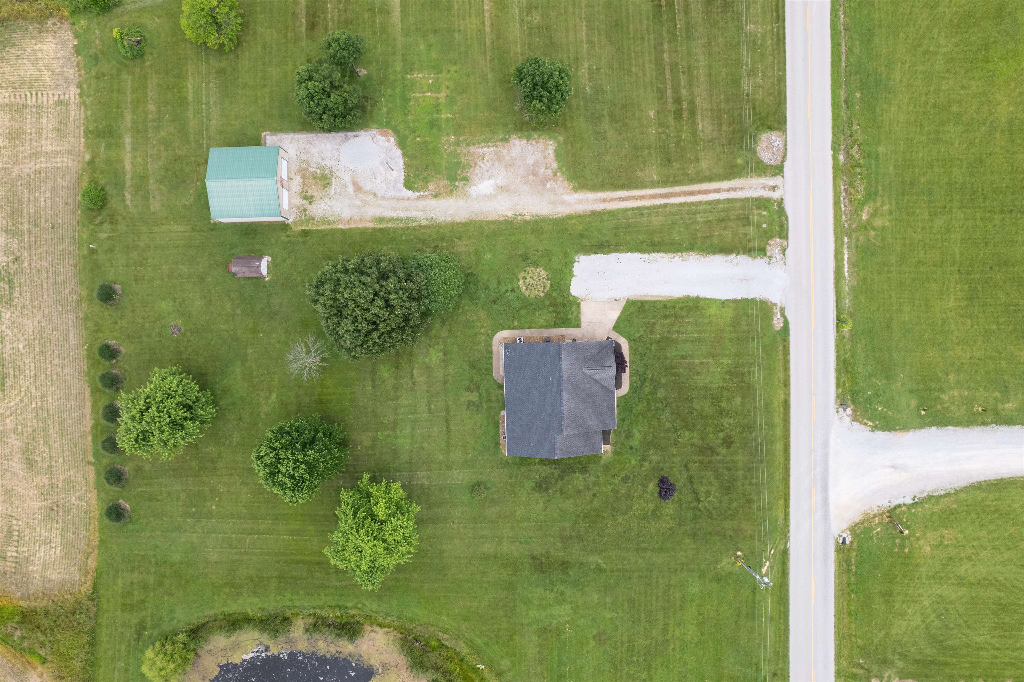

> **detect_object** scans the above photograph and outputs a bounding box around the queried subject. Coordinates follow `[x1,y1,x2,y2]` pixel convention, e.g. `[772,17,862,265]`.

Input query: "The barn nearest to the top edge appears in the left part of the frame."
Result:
[205,145,288,222]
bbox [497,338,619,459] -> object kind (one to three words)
house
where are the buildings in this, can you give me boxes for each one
[205,145,288,222]
[497,338,619,459]
[231,255,267,276]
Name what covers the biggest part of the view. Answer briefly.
grass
